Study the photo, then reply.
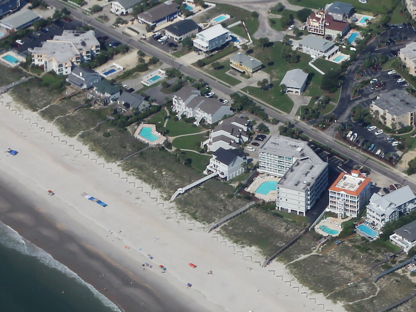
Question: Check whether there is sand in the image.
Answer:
Yes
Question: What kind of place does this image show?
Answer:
residential area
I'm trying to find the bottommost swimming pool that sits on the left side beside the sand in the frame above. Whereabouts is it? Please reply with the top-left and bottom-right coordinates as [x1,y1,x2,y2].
[135,122,166,145]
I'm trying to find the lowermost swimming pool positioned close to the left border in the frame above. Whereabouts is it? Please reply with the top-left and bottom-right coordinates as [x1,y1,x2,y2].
[0,50,26,65]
